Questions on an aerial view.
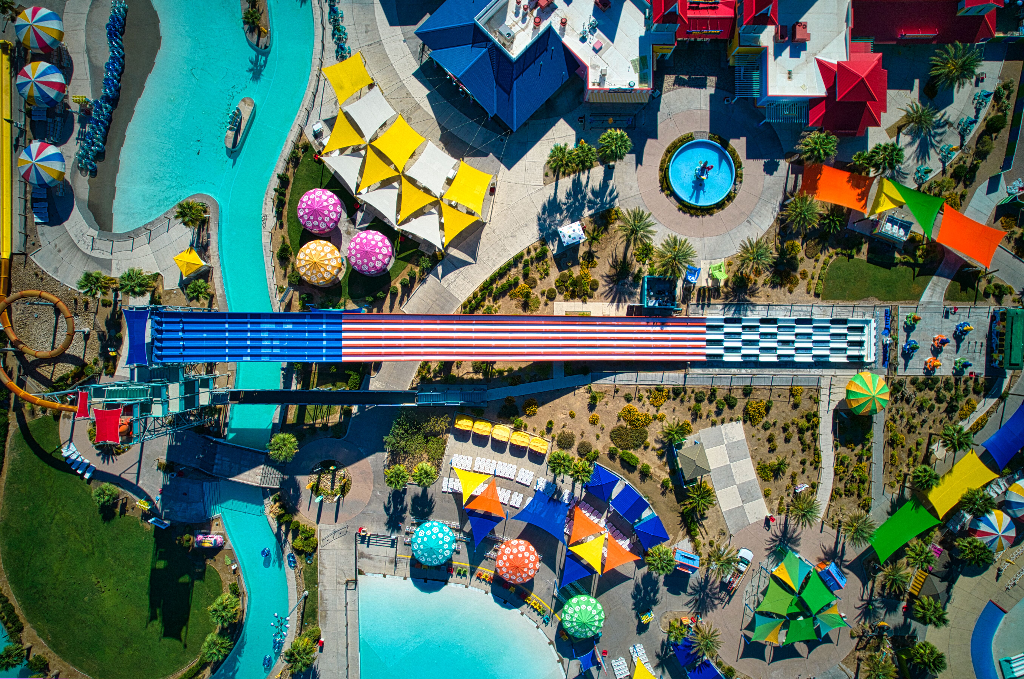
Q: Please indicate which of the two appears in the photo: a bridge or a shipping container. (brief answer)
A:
bridge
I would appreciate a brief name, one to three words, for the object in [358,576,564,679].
swimming pool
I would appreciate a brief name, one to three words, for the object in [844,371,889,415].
umbrella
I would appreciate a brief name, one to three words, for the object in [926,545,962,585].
tent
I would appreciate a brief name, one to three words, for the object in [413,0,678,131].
building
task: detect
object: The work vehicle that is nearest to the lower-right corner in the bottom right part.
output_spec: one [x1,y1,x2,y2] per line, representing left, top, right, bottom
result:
[867,615,895,650]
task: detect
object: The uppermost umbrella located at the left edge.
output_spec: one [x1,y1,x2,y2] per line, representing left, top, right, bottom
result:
[15,5,66,55]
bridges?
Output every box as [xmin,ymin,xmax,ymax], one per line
[168,431,283,491]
